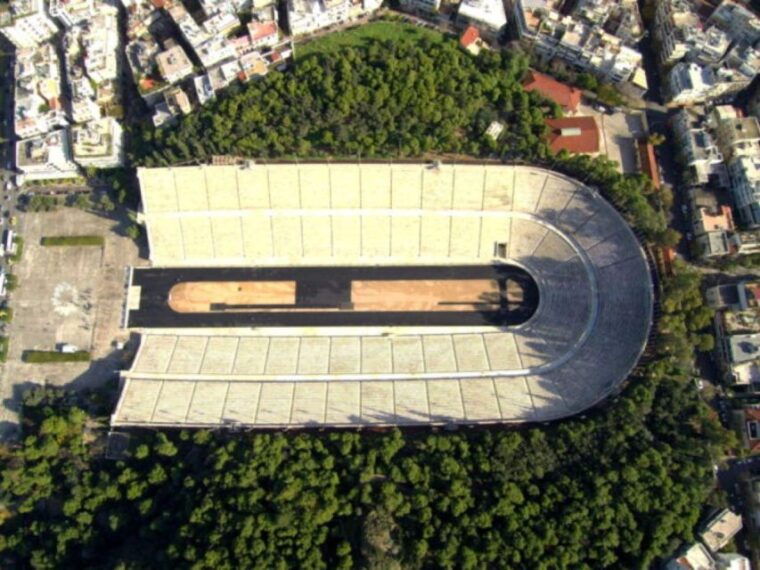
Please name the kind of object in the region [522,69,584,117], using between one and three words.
building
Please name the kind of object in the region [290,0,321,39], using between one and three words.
building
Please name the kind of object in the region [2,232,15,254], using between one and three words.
vehicle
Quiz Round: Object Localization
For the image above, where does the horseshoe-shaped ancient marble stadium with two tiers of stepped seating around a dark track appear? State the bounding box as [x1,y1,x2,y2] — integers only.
[107,163,656,429]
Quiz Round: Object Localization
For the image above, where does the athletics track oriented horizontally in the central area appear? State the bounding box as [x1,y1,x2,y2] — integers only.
[123,264,541,329]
